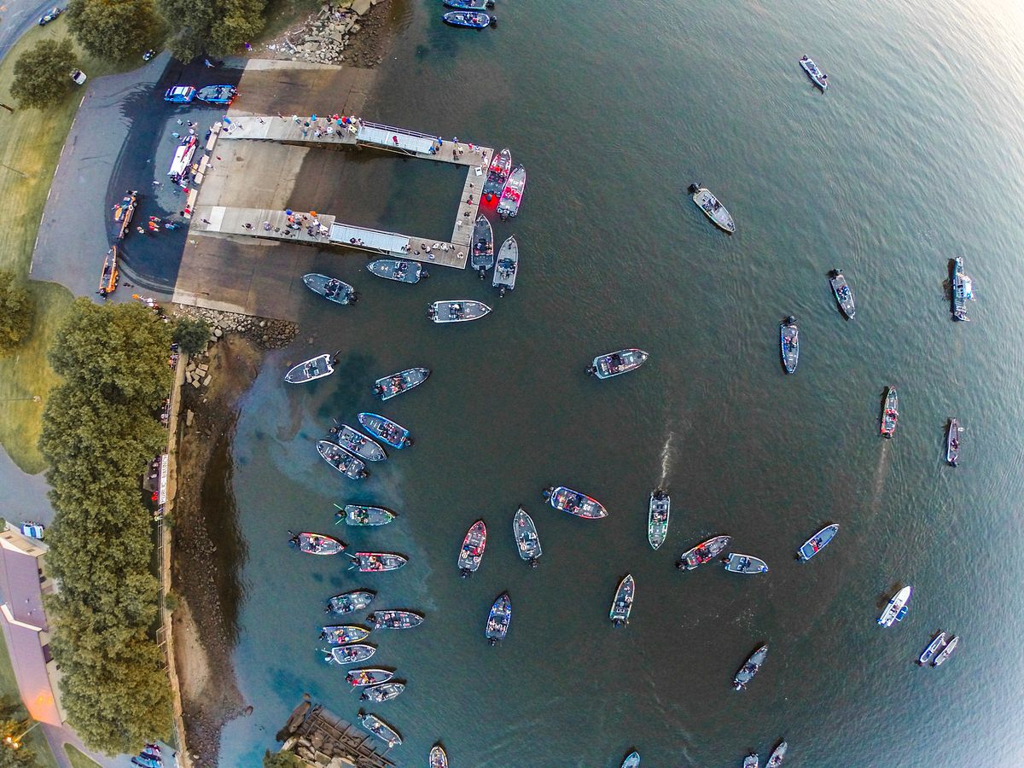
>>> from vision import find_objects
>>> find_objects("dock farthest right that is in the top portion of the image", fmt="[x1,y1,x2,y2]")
[406,139,494,270]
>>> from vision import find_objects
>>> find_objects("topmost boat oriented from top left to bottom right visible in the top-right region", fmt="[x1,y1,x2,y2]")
[799,50,828,90]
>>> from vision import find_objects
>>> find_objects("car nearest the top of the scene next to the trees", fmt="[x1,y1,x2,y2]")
[37,2,65,28]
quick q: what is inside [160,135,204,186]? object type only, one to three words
truck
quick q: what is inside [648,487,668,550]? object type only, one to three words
boat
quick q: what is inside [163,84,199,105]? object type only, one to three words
car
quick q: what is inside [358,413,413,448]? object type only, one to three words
boat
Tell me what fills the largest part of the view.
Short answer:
water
